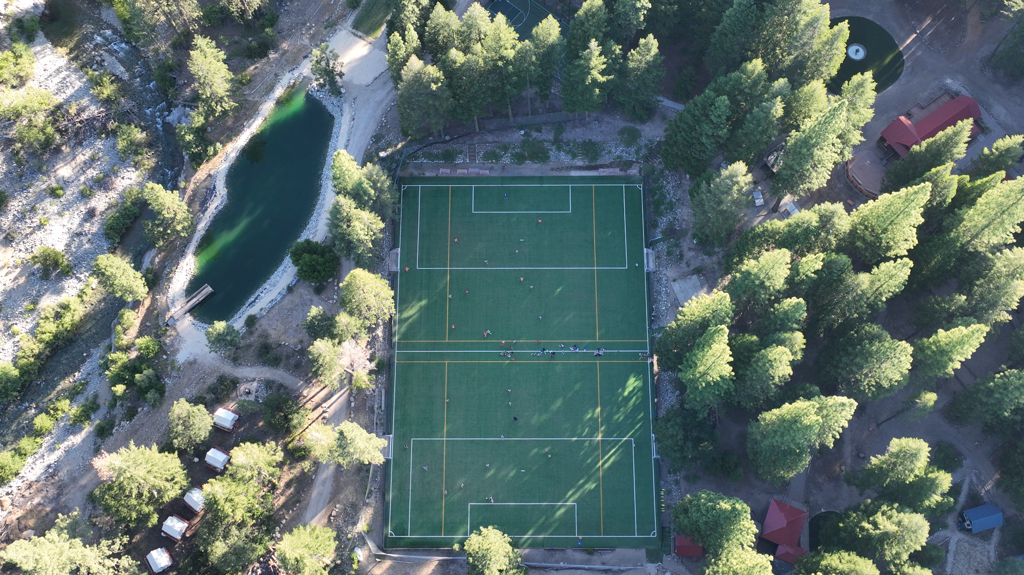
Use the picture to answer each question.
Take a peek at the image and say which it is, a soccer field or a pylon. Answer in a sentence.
Of the two, only a soccer field appears.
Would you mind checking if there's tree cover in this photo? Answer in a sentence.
Yes, the picture does contain tree cover.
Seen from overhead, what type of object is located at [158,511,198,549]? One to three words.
tent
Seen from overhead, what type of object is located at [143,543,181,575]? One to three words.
tent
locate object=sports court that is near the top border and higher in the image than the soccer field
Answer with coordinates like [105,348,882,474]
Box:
[464,0,619,89]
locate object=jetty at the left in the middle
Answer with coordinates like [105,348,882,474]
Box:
[165,282,213,326]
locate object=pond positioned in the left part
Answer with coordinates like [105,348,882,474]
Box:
[189,82,331,319]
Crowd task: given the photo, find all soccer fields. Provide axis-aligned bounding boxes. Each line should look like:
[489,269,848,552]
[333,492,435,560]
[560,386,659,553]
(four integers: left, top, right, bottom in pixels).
[384,176,661,549]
